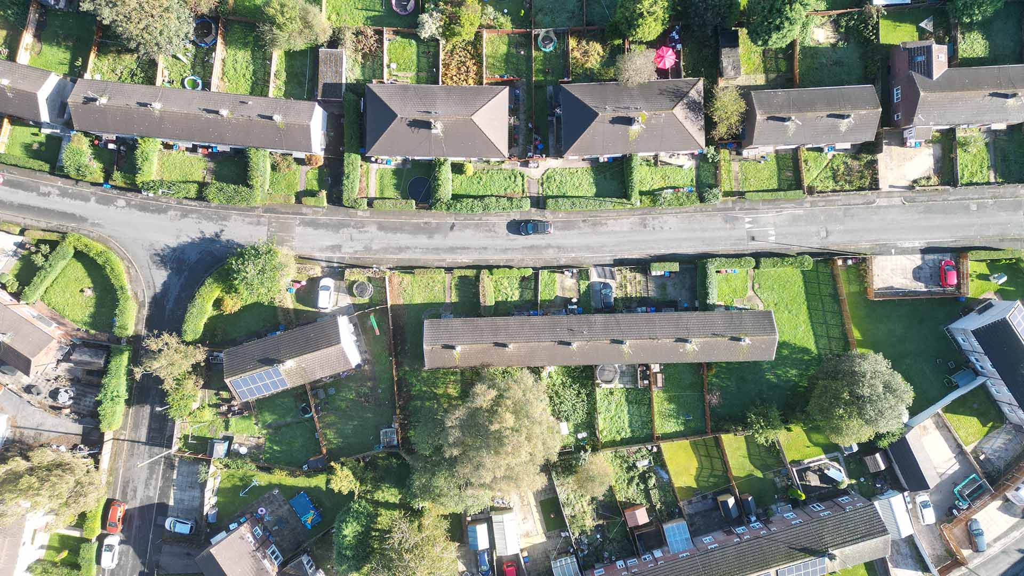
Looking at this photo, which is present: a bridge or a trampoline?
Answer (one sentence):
The image shows a trampoline.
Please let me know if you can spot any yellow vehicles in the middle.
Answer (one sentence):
No, no yellow vehicle appears in the middle.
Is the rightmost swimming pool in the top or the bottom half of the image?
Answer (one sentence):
The rightmost swimming pool sits in the bottom half of the picture.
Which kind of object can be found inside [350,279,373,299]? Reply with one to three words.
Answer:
trampoline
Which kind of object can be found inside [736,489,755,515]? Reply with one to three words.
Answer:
shed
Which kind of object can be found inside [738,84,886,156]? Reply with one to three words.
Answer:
house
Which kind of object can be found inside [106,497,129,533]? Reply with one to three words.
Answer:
car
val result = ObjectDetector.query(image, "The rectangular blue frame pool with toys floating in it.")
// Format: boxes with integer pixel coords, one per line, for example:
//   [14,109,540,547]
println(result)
[289,487,326,530]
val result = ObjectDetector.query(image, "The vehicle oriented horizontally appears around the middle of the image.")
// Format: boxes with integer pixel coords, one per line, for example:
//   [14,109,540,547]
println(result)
[519,219,553,236]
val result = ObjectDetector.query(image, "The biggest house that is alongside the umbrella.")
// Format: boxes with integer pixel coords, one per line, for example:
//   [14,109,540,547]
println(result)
[559,77,706,163]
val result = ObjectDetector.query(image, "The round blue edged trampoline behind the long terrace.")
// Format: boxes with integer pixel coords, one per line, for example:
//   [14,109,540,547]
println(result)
[191,19,216,46]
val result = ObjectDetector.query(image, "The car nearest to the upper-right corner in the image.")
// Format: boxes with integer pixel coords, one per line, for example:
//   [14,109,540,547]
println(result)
[938,259,957,289]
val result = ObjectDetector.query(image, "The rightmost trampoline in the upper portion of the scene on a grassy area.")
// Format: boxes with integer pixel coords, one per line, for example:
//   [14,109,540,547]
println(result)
[537,29,555,53]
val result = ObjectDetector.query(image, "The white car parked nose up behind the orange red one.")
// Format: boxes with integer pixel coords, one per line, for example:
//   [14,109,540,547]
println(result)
[102,533,124,570]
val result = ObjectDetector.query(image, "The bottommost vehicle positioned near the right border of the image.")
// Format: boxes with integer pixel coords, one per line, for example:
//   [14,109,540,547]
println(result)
[964,517,986,553]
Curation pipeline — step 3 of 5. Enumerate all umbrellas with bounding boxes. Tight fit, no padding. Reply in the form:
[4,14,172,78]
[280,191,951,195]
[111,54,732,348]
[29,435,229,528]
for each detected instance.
[652,47,676,71]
